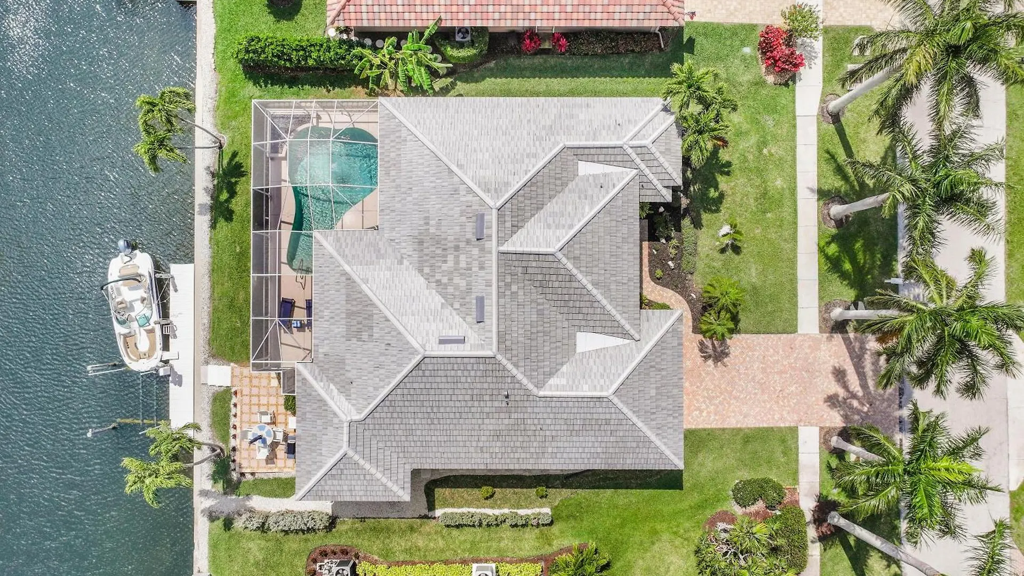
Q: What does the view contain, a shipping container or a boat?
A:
boat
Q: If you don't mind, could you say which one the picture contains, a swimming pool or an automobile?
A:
swimming pool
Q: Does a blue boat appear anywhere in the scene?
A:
No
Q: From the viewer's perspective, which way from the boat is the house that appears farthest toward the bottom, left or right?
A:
right of it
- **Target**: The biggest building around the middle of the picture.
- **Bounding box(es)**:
[294,96,685,502]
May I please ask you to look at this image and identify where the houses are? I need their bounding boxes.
[325,0,687,48]
[294,96,685,502]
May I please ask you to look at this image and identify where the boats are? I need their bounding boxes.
[101,239,165,372]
